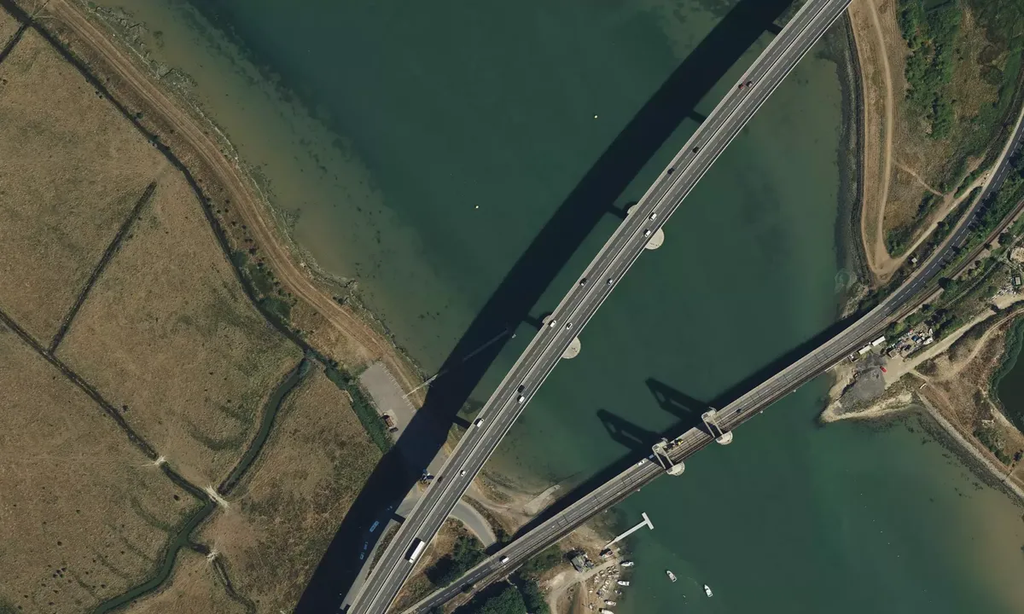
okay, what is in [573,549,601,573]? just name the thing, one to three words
building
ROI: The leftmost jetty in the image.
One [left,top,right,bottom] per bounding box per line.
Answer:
[404,330,508,396]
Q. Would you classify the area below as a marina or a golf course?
marina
